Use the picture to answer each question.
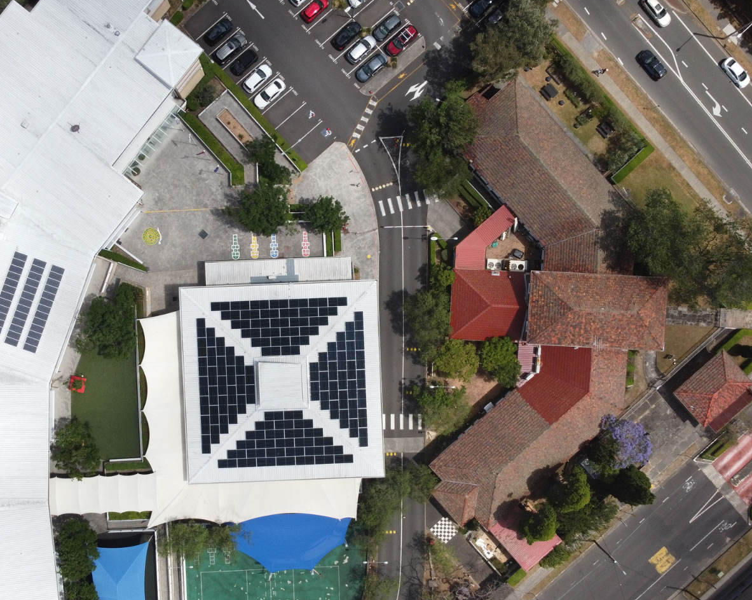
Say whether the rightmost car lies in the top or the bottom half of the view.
top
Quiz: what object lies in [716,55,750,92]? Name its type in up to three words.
car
